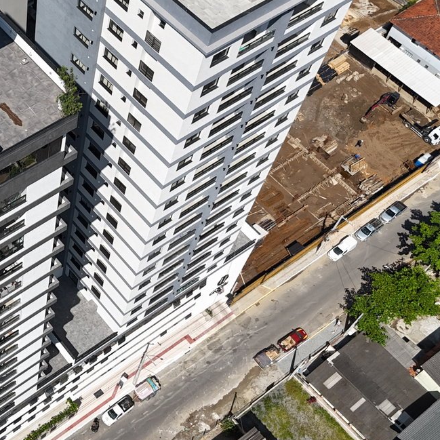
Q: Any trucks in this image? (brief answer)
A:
Yes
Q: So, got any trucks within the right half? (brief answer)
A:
Yes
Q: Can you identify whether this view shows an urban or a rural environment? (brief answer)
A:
urban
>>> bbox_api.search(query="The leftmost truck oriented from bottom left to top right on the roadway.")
[100,391,136,429]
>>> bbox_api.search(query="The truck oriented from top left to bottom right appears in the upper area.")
[395,107,440,145]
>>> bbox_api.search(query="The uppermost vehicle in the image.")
[362,88,408,119]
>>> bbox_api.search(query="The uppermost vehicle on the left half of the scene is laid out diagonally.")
[128,372,166,407]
